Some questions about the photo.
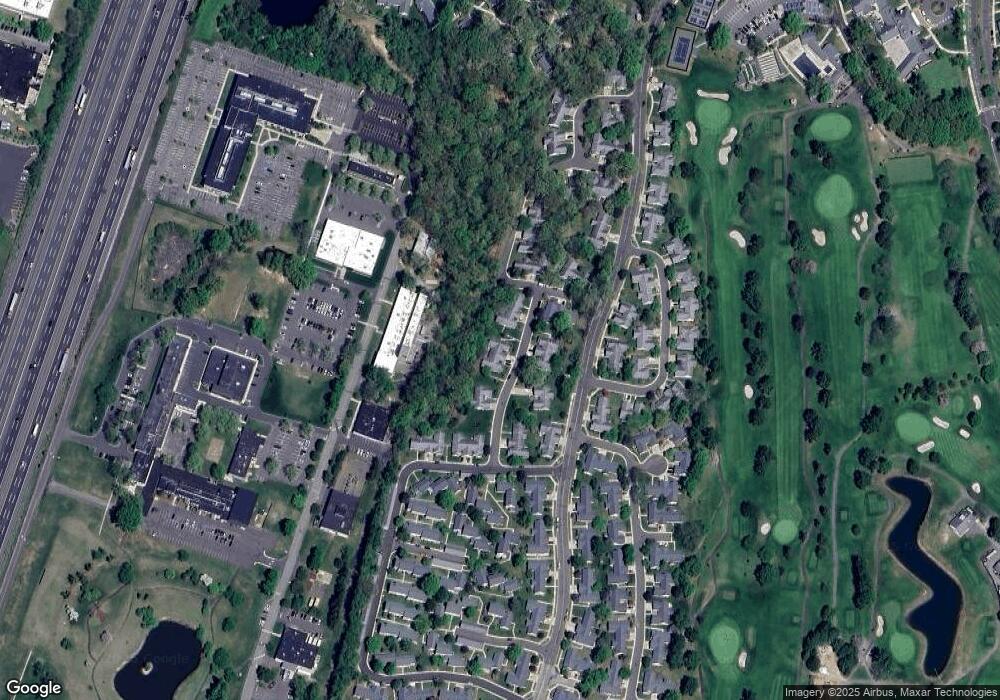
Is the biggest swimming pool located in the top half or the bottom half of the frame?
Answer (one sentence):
The biggest swimming pool sits in the top half of the picture.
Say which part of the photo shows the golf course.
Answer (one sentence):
The golf course is located in the right region of the scene.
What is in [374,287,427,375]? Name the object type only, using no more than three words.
building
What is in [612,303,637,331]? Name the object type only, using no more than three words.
house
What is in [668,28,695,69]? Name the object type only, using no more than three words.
tennis court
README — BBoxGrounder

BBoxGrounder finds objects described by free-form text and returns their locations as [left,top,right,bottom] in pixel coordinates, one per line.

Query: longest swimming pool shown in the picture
[780,37,836,80]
